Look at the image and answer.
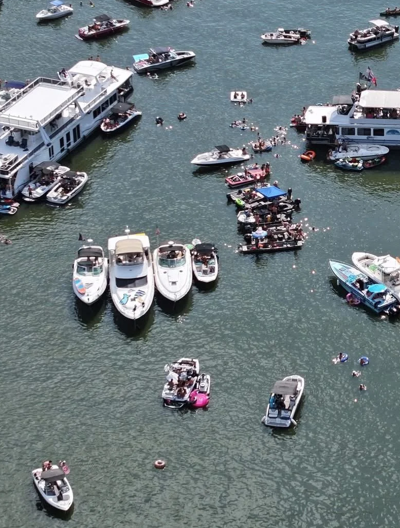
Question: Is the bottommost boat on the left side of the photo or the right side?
left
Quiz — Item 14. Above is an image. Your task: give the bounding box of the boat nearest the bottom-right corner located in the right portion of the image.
[264,378,302,432]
